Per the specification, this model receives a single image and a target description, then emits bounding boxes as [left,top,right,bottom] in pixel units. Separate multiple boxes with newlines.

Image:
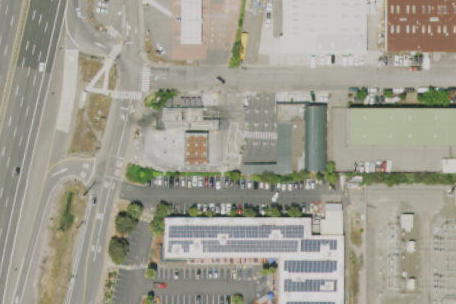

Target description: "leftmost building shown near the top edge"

[280,0,368,53]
